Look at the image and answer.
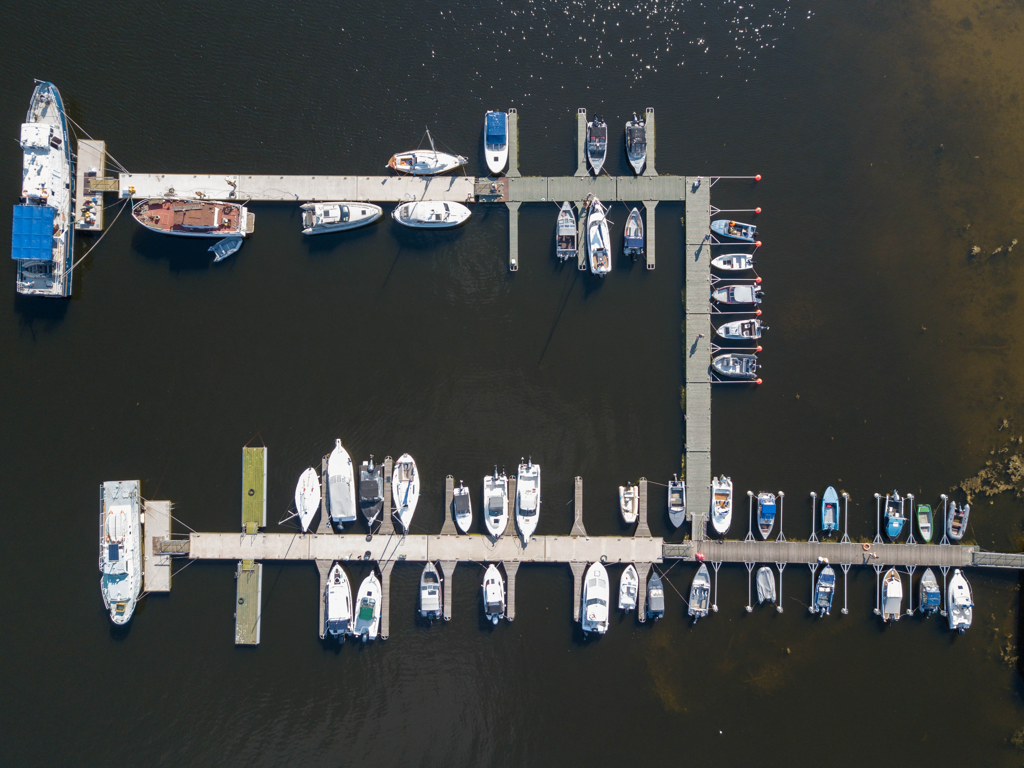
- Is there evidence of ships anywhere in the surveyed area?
Yes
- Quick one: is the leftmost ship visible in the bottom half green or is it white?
white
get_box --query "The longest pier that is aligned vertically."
[685,176,710,520]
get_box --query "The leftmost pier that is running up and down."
[75,139,107,231]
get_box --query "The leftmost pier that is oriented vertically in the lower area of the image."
[144,499,173,591]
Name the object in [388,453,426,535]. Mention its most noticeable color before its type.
white boat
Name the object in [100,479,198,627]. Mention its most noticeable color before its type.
white ship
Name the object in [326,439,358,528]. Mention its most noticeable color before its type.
white boat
